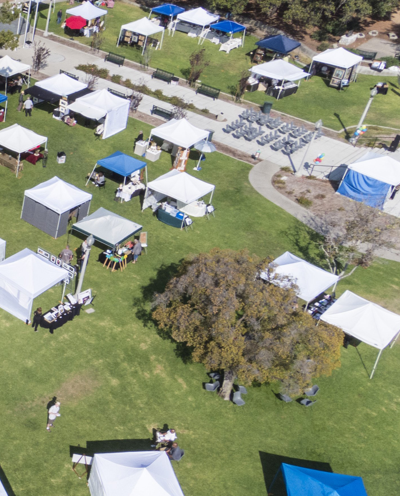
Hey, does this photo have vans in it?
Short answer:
No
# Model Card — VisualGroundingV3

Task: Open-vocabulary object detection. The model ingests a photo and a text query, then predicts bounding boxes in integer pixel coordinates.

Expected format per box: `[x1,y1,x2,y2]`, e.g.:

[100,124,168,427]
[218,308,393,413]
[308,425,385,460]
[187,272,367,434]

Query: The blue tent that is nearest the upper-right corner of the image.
[249,33,301,65]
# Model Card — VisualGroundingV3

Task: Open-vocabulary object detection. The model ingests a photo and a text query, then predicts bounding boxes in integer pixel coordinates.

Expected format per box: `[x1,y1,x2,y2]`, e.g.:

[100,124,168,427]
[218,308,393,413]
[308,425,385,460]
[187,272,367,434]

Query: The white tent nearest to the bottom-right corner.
[306,289,400,376]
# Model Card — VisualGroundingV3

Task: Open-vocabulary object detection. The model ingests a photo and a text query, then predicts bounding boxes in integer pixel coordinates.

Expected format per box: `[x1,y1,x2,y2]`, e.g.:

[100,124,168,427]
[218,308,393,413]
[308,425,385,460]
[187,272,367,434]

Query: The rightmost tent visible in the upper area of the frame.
[338,154,400,212]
